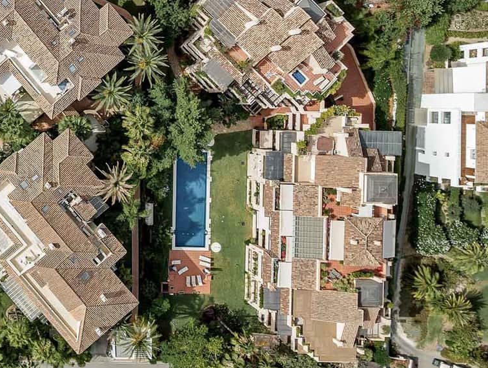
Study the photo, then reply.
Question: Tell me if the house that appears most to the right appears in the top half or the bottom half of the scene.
top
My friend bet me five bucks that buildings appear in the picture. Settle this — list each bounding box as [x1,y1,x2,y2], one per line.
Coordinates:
[0,129,139,353]
[239,110,403,365]
[172,0,357,118]
[0,0,134,120]
[410,44,488,192]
